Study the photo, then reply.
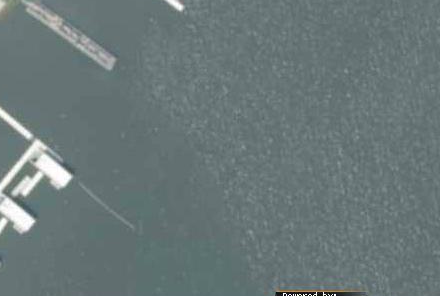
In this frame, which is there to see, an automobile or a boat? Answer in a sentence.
There is a boat in the scene.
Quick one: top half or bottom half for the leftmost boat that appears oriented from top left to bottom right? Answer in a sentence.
The bottom half of the photo is where the leftmost boat that appears oriented from top left to bottom right is.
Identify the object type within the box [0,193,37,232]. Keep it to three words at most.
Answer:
boat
